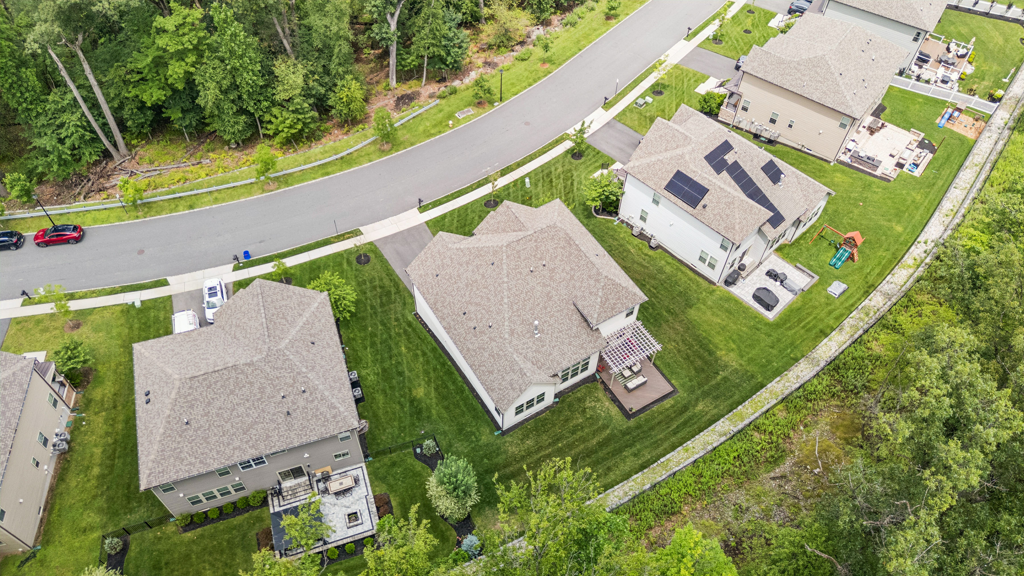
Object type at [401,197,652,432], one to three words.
house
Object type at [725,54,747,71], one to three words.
car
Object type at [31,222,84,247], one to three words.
car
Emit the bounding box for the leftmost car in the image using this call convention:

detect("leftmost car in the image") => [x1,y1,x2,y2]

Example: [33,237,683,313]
[0,228,25,250]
